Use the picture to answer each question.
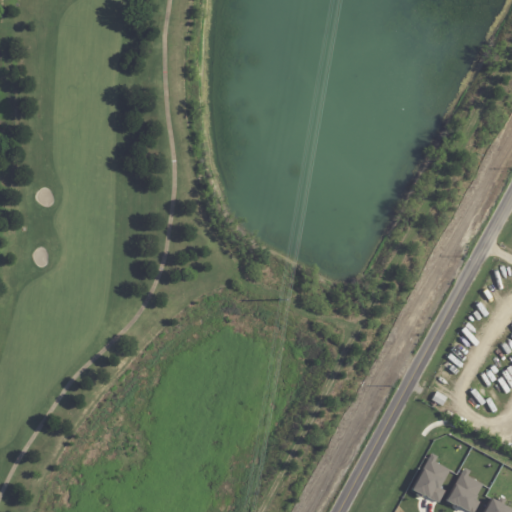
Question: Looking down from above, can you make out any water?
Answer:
Yes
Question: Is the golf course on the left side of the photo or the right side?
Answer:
left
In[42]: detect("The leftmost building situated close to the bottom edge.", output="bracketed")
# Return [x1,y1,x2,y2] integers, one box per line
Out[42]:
[412,454,452,504]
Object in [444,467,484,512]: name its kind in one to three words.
house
